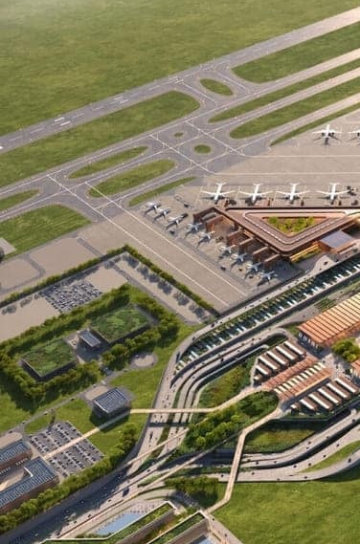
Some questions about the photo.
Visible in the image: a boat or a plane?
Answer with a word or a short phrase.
plane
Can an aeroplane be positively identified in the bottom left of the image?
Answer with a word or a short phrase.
No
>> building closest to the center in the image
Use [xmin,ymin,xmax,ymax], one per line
[90,305,154,347]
